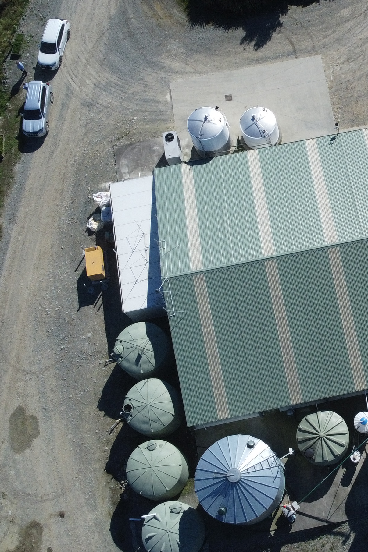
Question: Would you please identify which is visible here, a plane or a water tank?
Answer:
water tank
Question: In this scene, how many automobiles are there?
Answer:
two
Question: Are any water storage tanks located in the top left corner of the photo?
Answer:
No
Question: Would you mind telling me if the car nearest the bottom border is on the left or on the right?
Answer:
left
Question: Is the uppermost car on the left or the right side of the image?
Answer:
left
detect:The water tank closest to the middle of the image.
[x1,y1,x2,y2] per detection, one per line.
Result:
[110,324,174,380]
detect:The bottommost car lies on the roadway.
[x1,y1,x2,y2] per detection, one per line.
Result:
[19,84,56,143]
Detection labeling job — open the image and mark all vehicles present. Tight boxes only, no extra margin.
[35,19,71,74]
[19,84,56,143]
